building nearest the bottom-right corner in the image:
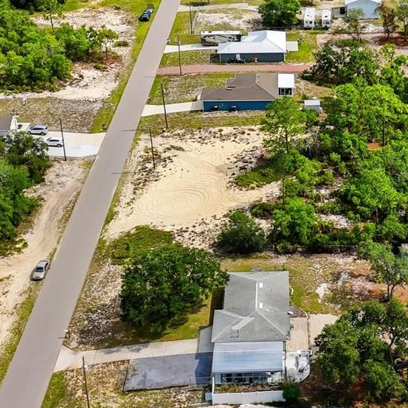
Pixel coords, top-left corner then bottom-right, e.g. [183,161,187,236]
[209,270,289,387]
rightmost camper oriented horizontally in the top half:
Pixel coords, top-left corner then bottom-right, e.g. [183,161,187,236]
[198,28,241,45]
